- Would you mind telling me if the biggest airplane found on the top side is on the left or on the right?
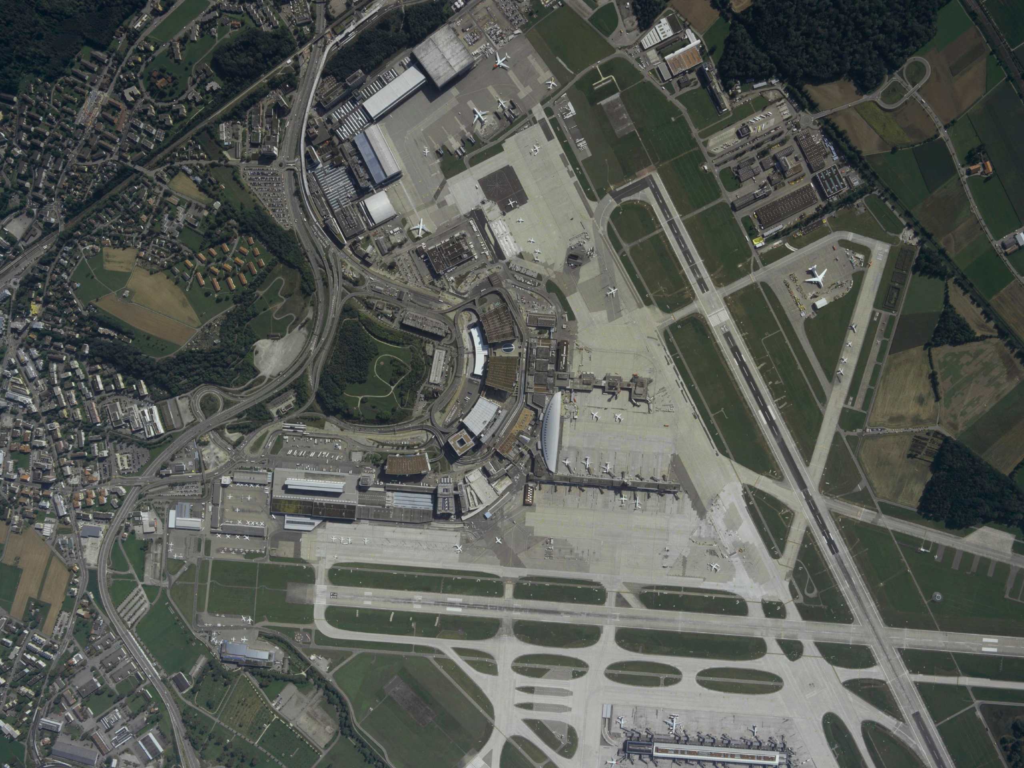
right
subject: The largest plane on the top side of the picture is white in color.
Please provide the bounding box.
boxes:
[807,265,829,287]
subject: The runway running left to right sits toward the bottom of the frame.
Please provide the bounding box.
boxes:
[315,585,1024,657]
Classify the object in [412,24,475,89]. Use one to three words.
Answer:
hangar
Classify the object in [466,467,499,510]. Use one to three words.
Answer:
building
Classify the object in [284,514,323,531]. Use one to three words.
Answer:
hangar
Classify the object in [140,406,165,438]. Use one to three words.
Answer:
building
